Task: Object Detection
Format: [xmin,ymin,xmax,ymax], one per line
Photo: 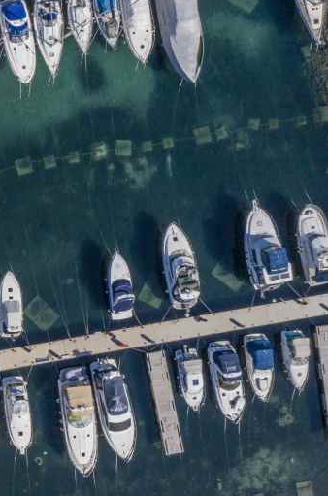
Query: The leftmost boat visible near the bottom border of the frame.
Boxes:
[0,366,31,496]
